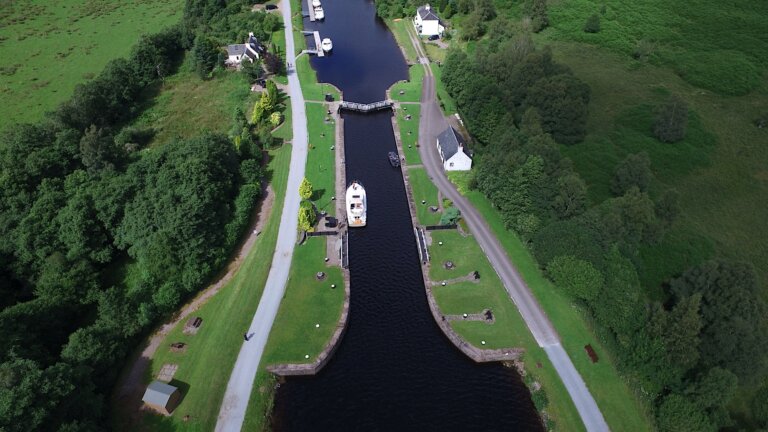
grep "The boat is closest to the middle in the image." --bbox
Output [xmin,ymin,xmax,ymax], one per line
[347,178,369,231]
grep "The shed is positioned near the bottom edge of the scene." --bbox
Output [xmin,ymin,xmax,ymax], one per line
[139,378,184,415]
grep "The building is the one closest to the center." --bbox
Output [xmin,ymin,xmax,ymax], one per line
[438,127,480,176]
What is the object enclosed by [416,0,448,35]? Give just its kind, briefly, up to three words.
house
